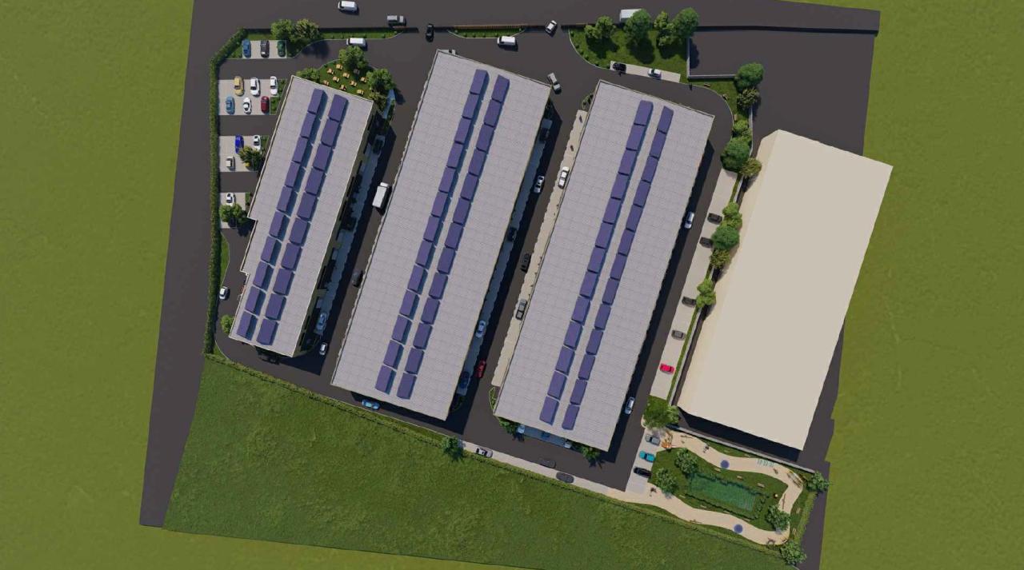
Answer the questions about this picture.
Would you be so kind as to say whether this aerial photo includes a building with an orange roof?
No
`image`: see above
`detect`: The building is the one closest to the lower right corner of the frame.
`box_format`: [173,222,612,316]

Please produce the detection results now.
[678,130,893,450]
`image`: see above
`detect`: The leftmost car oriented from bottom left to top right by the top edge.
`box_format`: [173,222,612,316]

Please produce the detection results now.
[545,19,557,35]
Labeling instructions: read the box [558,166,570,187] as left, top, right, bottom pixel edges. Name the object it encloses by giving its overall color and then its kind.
white vehicle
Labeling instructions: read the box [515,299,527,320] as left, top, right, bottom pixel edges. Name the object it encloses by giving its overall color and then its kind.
gray vehicle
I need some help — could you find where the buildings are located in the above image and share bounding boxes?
[331,50,551,421]
[229,76,381,357]
[495,80,714,451]
[678,130,893,450]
